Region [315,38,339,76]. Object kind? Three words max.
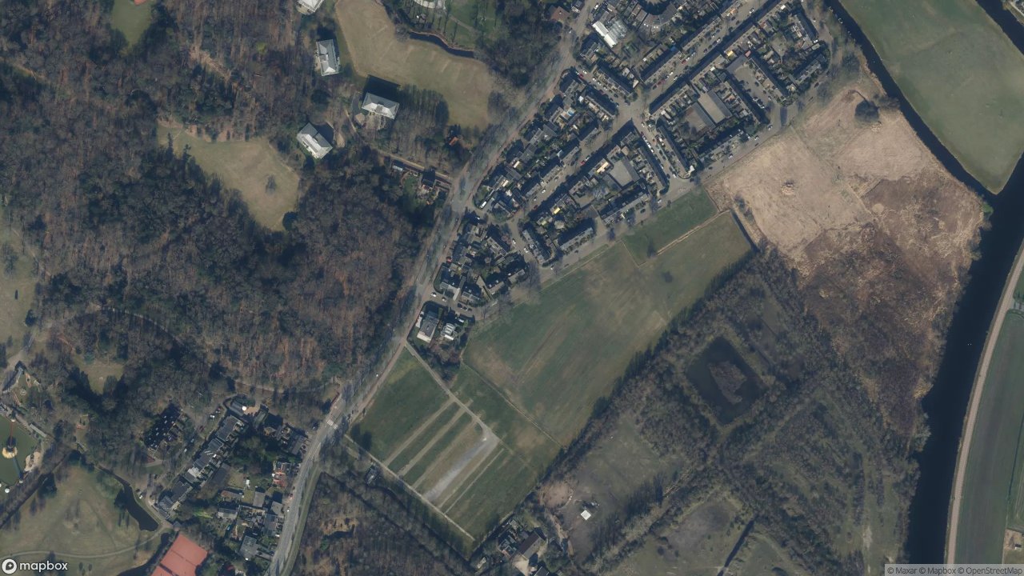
building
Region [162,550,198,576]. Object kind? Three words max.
tennis court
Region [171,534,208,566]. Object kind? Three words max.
tennis court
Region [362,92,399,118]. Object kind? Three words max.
building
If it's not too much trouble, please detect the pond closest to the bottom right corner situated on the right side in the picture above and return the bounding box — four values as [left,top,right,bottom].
[687,338,766,424]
